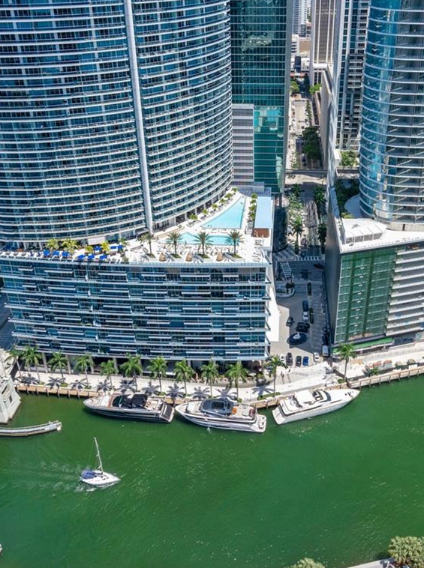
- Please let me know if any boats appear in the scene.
Yes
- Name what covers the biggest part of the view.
buildings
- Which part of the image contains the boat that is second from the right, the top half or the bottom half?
bottom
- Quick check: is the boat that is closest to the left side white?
Yes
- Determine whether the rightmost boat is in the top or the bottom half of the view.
bottom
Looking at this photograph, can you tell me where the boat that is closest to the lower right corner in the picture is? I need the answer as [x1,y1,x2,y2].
[273,383,362,425]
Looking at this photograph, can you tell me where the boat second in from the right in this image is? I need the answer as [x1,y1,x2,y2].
[176,399,273,434]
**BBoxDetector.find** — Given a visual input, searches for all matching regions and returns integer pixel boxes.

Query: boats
[176,399,273,434]
[81,445,118,484]
[273,383,362,425]
[84,392,179,423]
